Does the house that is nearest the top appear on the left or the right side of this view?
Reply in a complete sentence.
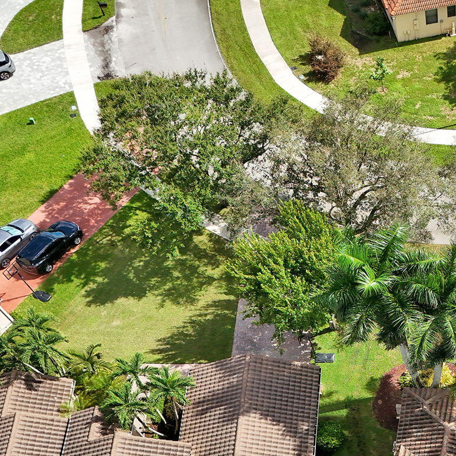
You can find the house that is nearest the top on the right side of the picture.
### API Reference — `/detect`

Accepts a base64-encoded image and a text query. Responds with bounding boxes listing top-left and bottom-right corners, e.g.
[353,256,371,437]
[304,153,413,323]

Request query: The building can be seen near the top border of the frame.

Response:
[382,0,456,42]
